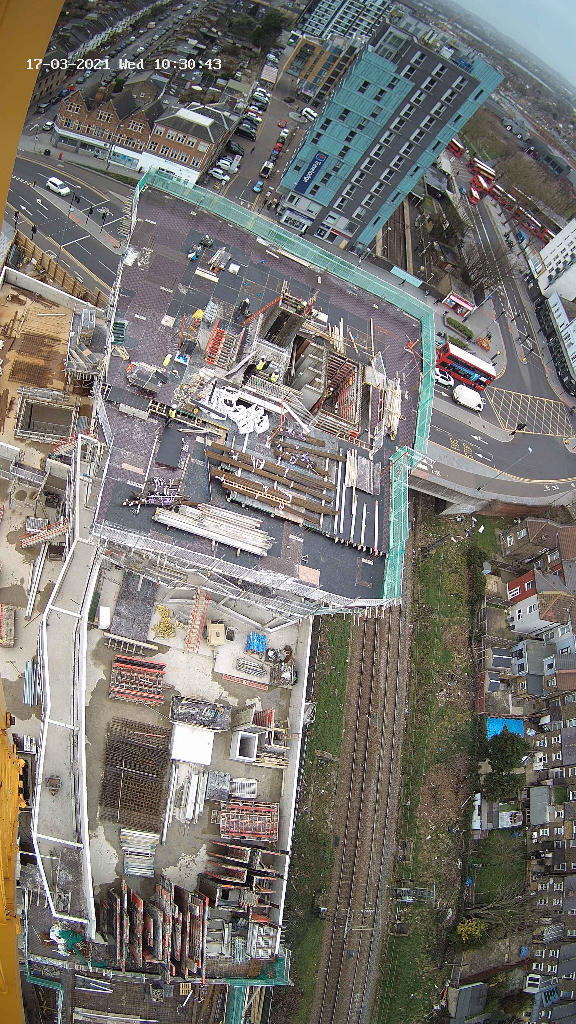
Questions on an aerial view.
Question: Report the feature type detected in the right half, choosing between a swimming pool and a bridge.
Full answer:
What appears in the right half is a bridge.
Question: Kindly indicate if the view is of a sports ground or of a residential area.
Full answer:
It's a residential area.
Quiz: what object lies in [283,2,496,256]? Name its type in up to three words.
building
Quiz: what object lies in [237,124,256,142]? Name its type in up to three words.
car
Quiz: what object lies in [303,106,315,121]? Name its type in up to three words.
vehicle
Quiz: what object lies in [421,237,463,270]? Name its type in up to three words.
building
